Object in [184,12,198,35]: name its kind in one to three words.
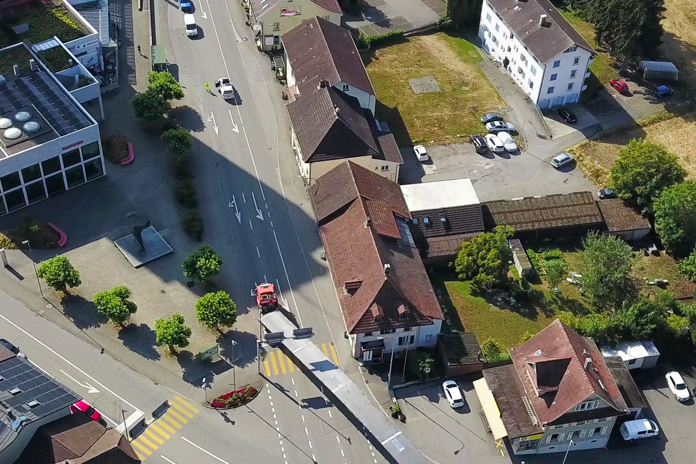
vehicle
